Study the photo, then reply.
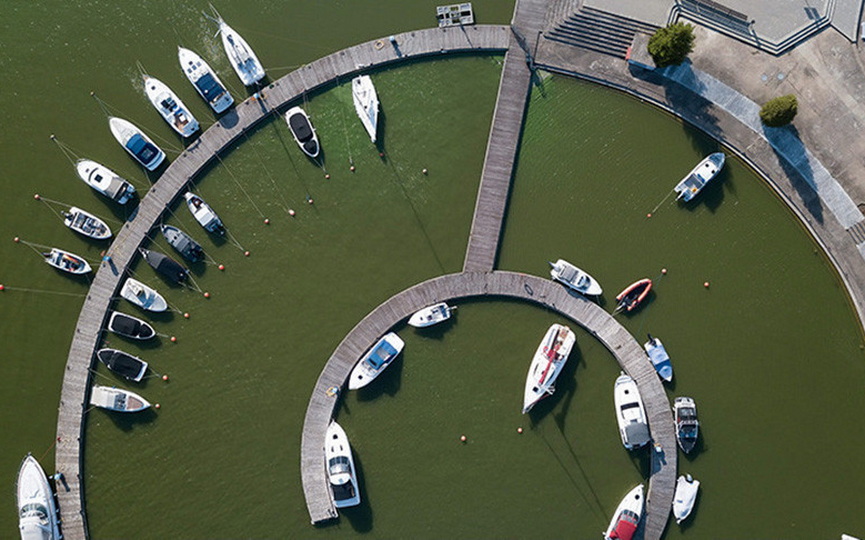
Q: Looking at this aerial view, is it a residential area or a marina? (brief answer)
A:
marina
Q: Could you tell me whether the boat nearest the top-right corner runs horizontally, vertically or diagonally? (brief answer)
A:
diagonally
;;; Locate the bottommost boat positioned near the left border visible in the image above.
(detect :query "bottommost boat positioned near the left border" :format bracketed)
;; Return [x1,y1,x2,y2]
[14,453,67,540]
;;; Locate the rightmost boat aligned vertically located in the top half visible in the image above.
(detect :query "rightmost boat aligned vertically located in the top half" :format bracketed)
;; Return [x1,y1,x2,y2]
[351,75,382,142]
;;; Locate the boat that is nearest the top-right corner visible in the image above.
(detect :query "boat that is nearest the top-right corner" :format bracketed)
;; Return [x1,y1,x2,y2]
[672,151,729,203]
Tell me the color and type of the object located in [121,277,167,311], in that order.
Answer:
white boat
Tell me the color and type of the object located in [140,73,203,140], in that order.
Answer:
white boat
